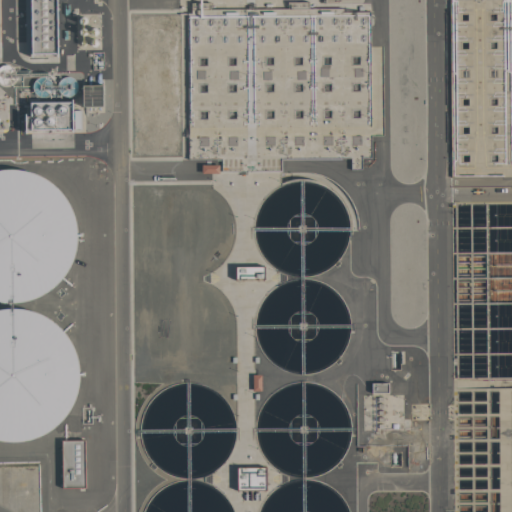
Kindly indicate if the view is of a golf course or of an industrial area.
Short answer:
industrial area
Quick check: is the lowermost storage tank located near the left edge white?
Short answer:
Yes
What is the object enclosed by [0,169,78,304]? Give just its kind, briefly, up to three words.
storage tank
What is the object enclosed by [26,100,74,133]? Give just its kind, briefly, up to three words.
house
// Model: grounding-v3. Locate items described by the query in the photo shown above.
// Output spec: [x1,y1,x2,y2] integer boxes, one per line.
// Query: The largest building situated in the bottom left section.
[63,424,86,490]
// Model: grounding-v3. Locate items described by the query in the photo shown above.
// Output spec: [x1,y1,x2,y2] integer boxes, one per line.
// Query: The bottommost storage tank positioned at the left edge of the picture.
[0,308,79,442]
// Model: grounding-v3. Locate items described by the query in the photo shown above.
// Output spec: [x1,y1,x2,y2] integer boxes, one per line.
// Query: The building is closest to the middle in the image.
[238,268,266,282]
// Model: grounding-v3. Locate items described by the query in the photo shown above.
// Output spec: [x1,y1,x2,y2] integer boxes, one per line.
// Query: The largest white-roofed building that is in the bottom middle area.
[238,468,267,492]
